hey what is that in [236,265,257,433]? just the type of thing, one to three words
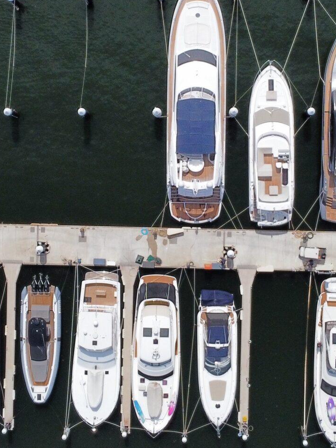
pier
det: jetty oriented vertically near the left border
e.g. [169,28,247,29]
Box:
[2,258,23,432]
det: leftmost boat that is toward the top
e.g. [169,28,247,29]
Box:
[166,0,228,223]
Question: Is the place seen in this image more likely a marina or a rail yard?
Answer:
marina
